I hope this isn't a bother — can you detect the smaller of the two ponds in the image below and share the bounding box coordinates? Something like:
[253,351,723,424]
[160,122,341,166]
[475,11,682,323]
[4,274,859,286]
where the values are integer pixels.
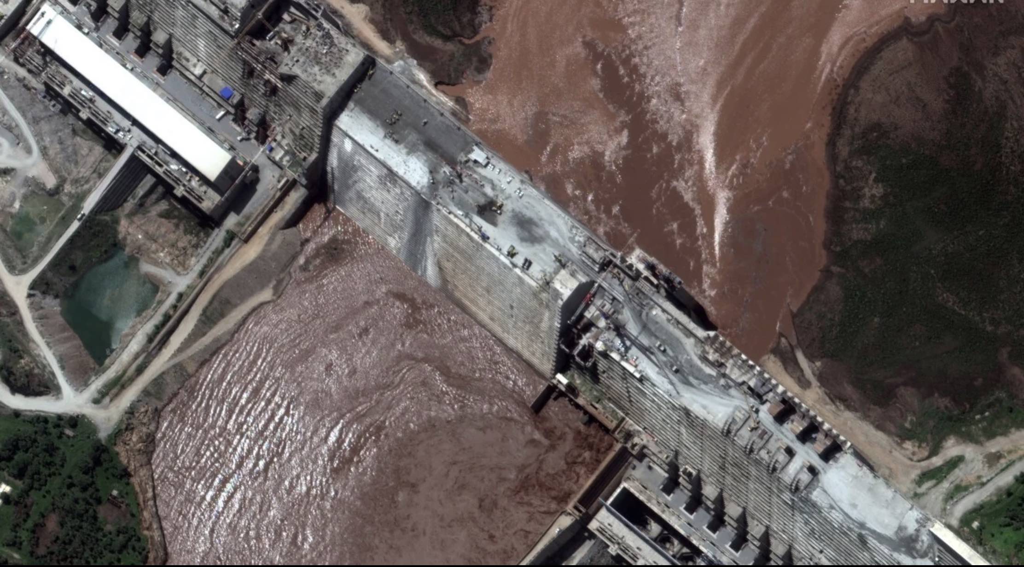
[58,248,160,367]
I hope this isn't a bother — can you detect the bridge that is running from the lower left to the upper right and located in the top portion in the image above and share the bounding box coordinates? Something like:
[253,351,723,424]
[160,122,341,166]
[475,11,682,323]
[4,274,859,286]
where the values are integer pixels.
[74,146,145,230]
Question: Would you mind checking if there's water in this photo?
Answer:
Yes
